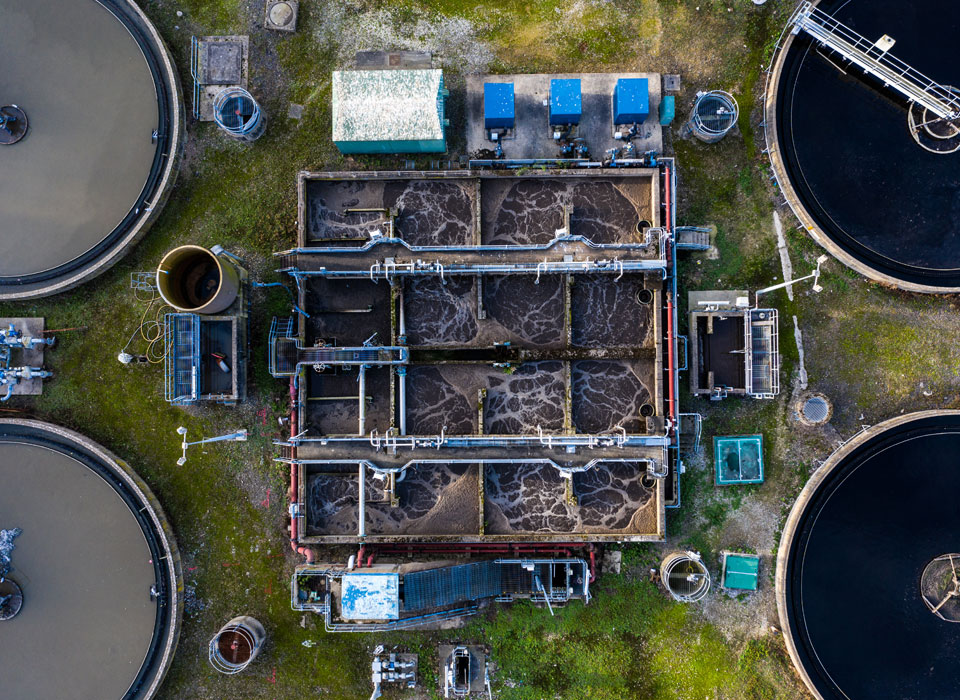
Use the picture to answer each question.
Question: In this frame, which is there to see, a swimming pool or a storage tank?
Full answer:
Looking from above, you can make out a storage tank.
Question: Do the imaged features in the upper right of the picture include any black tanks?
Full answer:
No, the scene shows no black tank in the upper right of the picture.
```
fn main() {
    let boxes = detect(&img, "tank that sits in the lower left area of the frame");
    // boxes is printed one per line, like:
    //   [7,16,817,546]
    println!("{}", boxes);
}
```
[0,416,188,700]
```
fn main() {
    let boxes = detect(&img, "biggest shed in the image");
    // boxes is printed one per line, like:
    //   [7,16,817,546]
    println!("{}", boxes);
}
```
[331,69,451,153]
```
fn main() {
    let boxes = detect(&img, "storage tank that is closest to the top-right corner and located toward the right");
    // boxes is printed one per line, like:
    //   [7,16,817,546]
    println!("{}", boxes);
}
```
[751,0,960,296]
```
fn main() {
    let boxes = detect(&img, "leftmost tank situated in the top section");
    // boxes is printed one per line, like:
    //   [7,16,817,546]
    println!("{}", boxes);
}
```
[0,0,187,302]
